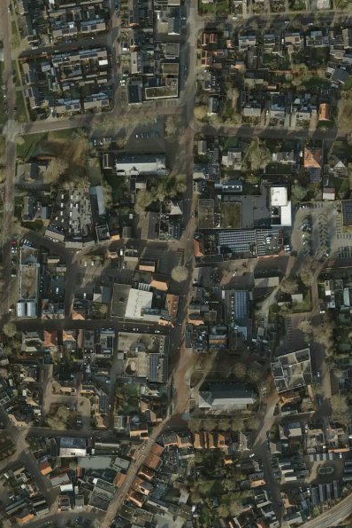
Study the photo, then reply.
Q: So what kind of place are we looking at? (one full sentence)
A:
The area seen from above is a residential area.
